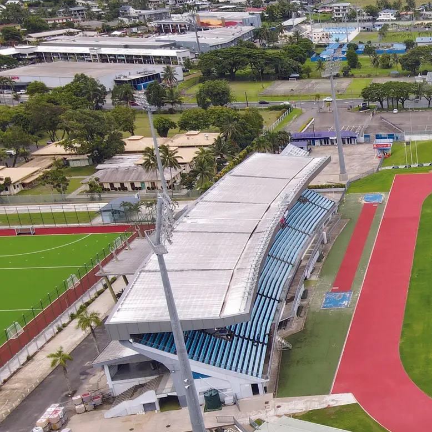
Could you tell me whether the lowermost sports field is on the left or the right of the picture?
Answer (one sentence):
It is on the left.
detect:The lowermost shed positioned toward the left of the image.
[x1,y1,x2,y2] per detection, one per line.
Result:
[94,192,150,224]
